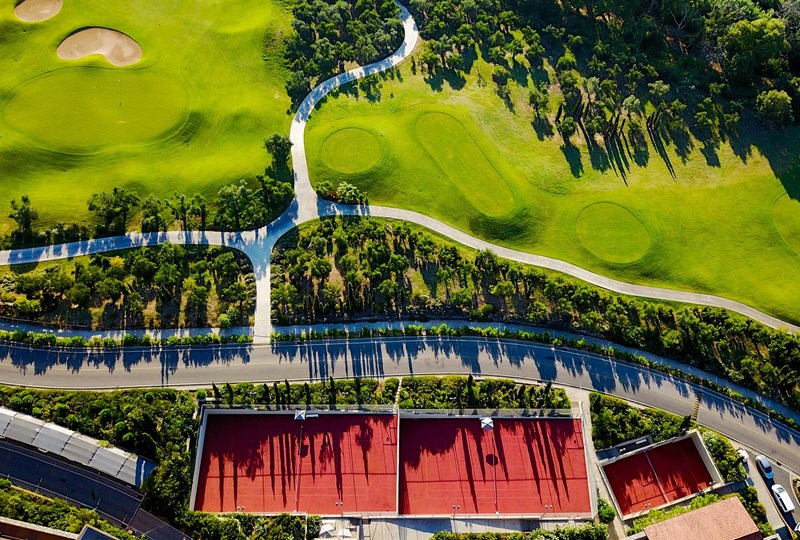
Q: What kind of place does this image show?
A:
golf course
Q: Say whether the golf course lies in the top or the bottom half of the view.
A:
top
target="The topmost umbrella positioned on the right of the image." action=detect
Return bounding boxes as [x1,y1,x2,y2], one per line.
[480,417,494,431]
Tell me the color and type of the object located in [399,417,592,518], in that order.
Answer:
red tennis court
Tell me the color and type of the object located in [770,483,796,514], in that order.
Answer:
white vehicle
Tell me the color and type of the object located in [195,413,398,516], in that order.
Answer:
red tennis court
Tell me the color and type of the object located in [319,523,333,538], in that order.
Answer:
white umbrella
